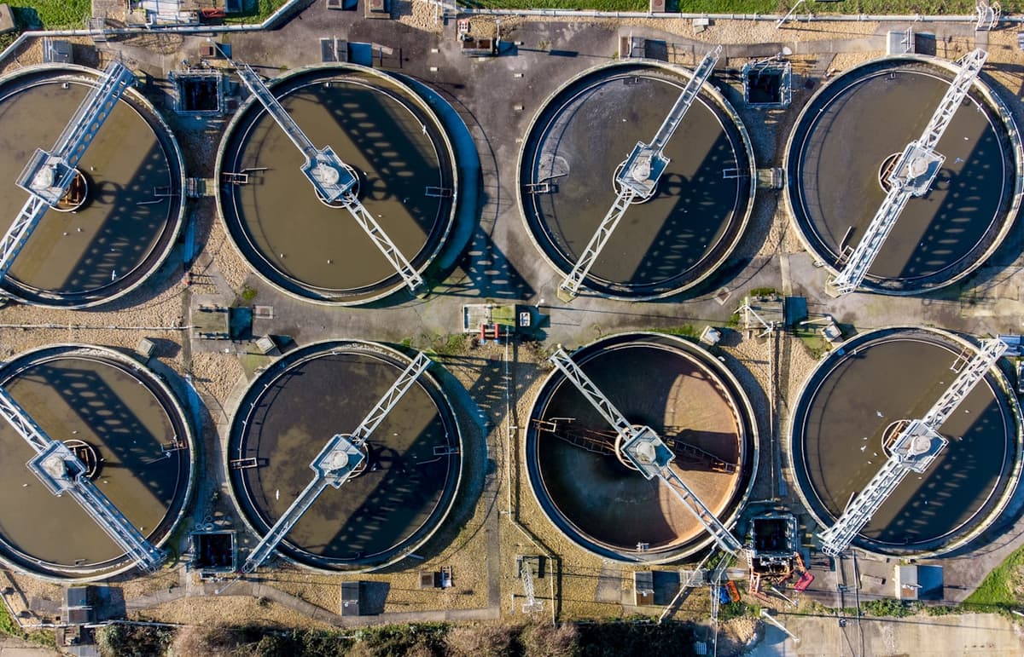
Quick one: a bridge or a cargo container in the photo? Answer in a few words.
bridge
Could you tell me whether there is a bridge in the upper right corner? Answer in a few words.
Yes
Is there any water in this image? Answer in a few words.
Yes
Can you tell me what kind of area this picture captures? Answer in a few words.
industrial area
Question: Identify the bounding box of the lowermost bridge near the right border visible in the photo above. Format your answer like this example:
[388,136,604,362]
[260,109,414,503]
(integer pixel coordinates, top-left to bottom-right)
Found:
[810,336,1013,563]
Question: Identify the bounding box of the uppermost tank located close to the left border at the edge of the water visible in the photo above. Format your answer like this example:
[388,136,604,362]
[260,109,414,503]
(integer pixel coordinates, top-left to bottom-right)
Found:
[0,62,189,308]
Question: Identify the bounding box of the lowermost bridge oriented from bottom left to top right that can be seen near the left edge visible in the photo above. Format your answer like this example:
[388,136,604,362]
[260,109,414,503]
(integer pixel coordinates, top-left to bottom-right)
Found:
[0,52,153,301]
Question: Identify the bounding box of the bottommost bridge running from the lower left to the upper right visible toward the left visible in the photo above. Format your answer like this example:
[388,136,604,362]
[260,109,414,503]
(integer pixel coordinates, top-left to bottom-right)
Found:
[240,351,434,576]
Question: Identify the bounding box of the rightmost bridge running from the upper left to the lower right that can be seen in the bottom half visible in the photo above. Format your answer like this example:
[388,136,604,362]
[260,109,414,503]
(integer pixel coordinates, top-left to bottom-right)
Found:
[550,347,747,561]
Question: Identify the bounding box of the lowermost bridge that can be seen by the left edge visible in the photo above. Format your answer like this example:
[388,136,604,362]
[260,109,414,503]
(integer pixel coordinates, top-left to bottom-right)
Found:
[0,382,181,582]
